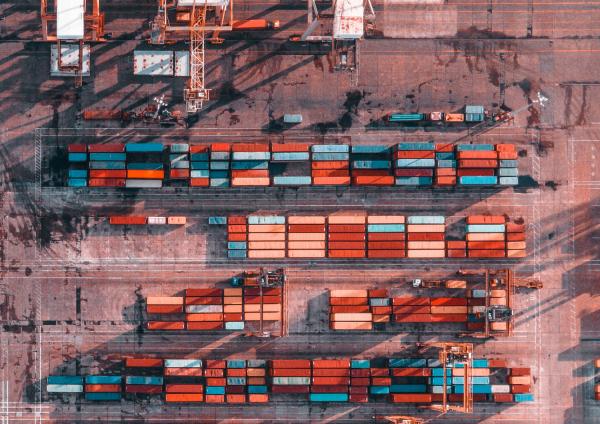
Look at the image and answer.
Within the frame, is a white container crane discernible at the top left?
Yes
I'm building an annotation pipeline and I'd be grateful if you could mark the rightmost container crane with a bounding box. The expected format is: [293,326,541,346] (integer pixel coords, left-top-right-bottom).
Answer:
[462,266,516,338]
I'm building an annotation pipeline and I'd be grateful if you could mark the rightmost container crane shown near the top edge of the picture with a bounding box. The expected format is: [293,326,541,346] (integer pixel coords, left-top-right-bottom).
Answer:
[274,0,379,92]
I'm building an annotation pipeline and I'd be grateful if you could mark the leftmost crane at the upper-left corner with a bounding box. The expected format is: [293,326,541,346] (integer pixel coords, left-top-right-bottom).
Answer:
[30,0,112,90]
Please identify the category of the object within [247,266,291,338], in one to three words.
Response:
container crane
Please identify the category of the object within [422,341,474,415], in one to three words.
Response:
container crane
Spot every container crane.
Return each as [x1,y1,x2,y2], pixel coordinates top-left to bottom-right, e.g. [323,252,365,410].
[144,0,243,110]
[274,0,379,92]
[462,266,516,338]
[30,0,112,90]
[422,341,474,415]
[247,266,291,338]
